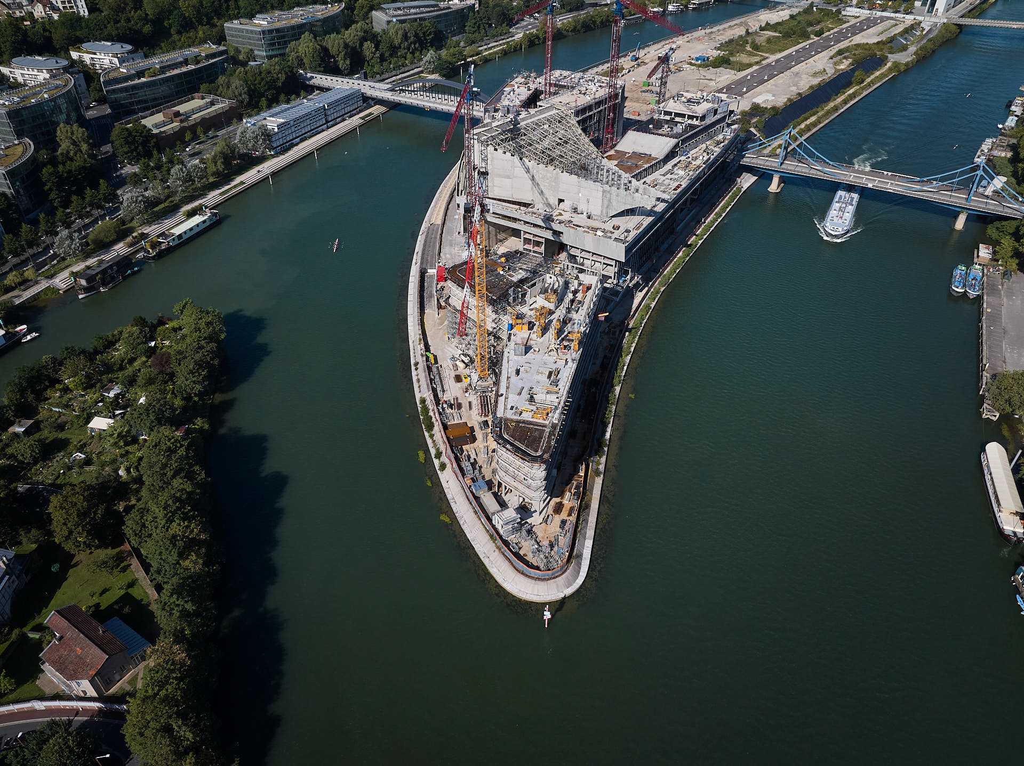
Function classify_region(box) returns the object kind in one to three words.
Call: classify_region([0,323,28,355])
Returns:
boat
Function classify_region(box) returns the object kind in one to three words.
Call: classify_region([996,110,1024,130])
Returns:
vessel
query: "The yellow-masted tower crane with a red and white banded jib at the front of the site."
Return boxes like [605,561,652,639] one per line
[456,175,496,379]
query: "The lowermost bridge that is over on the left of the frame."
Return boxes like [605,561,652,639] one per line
[302,73,488,122]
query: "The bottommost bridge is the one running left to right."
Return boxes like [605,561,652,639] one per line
[727,130,1024,227]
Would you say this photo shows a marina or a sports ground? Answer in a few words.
marina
